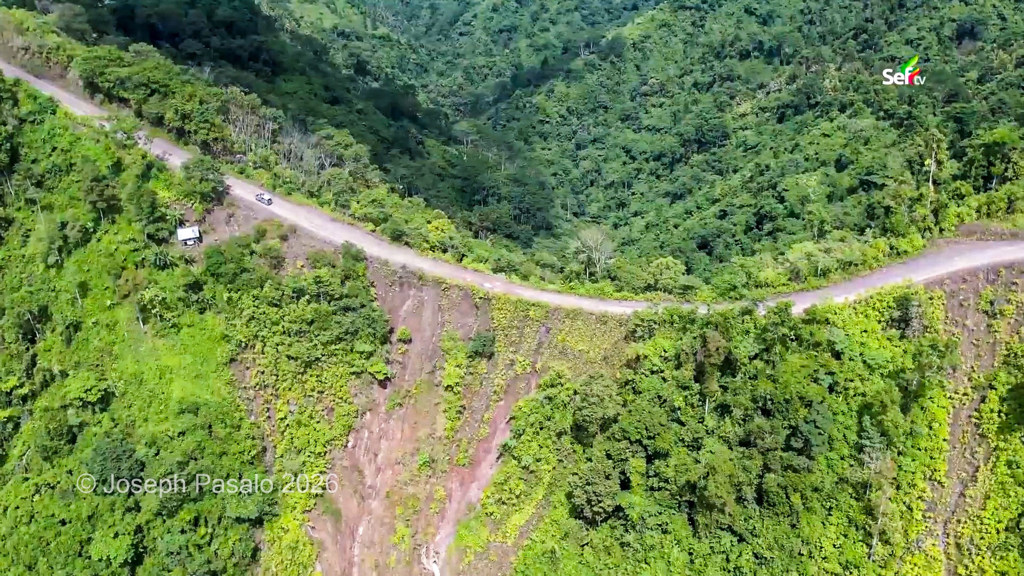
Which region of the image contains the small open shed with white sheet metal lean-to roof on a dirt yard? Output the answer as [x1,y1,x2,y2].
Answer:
[174,224,200,249]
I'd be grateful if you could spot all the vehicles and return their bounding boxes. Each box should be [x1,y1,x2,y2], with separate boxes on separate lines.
[252,194,273,208]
